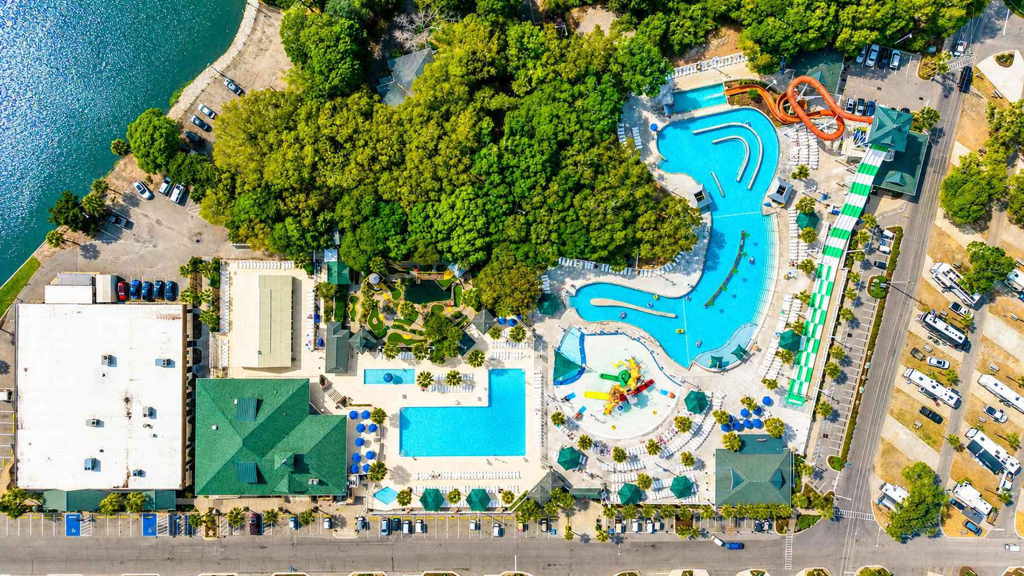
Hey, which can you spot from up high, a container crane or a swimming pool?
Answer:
swimming pool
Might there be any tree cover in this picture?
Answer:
Yes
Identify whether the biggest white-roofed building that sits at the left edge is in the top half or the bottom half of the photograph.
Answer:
bottom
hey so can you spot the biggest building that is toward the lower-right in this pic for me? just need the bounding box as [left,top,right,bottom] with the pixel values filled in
[714,448,791,506]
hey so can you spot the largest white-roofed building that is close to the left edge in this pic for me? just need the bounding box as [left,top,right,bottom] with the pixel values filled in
[16,304,198,515]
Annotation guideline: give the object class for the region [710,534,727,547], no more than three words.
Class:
vehicle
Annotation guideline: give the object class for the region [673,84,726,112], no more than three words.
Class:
swimming pool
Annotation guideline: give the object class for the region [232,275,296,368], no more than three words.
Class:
building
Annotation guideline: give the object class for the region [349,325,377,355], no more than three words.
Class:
gazebo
